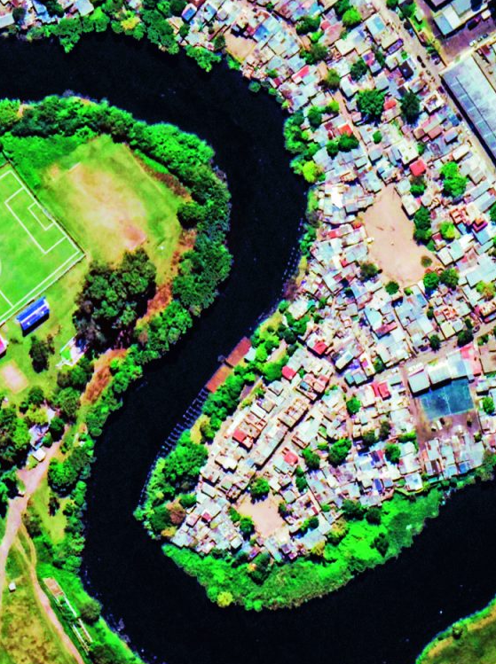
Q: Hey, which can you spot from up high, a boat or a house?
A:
house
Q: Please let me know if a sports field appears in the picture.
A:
Yes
